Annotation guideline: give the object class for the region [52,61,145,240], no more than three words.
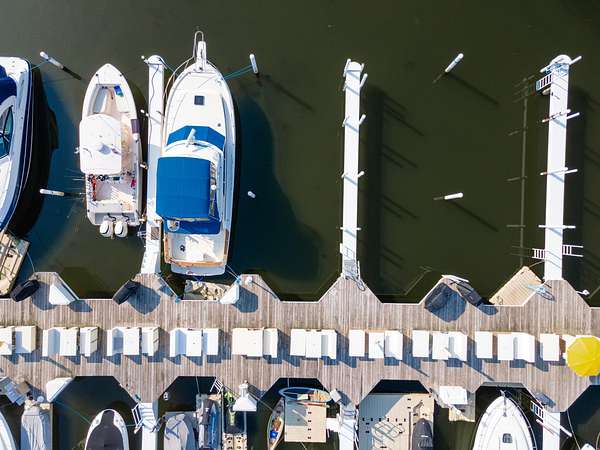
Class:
boat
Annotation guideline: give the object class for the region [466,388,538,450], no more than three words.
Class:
boat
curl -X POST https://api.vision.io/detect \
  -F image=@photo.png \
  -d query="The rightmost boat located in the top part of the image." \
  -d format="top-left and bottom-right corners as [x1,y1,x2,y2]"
[155,31,238,274]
